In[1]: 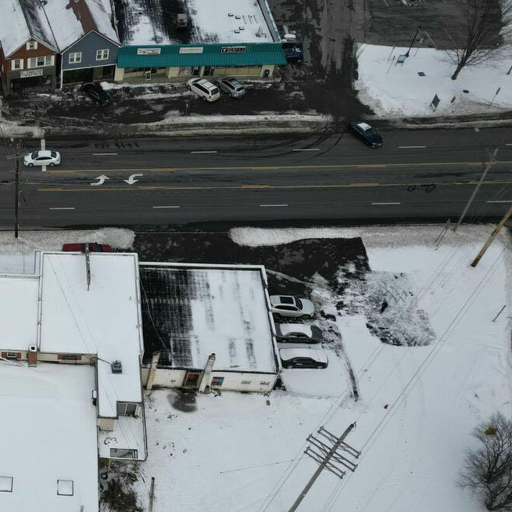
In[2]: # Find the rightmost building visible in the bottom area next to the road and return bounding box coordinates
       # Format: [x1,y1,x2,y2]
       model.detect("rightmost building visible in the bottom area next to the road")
[137,261,288,397]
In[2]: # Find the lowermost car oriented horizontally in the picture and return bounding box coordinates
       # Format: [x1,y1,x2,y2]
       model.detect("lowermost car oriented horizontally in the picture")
[283,348,334,372]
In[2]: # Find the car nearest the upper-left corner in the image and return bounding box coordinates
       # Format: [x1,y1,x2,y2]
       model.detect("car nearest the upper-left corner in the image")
[80,81,115,106]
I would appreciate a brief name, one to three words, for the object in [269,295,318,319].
car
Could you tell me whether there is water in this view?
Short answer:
No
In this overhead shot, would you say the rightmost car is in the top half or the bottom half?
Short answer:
top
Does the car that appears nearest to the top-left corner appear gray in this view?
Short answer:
No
